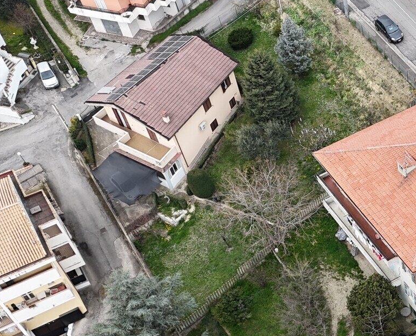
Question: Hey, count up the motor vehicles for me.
2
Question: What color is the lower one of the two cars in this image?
white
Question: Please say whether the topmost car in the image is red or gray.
gray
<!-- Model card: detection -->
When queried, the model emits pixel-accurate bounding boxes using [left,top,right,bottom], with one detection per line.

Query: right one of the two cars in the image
[374,13,401,48]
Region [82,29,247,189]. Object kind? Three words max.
house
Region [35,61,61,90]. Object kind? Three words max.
car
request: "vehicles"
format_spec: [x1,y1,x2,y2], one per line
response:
[374,13,401,48]
[35,61,61,90]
